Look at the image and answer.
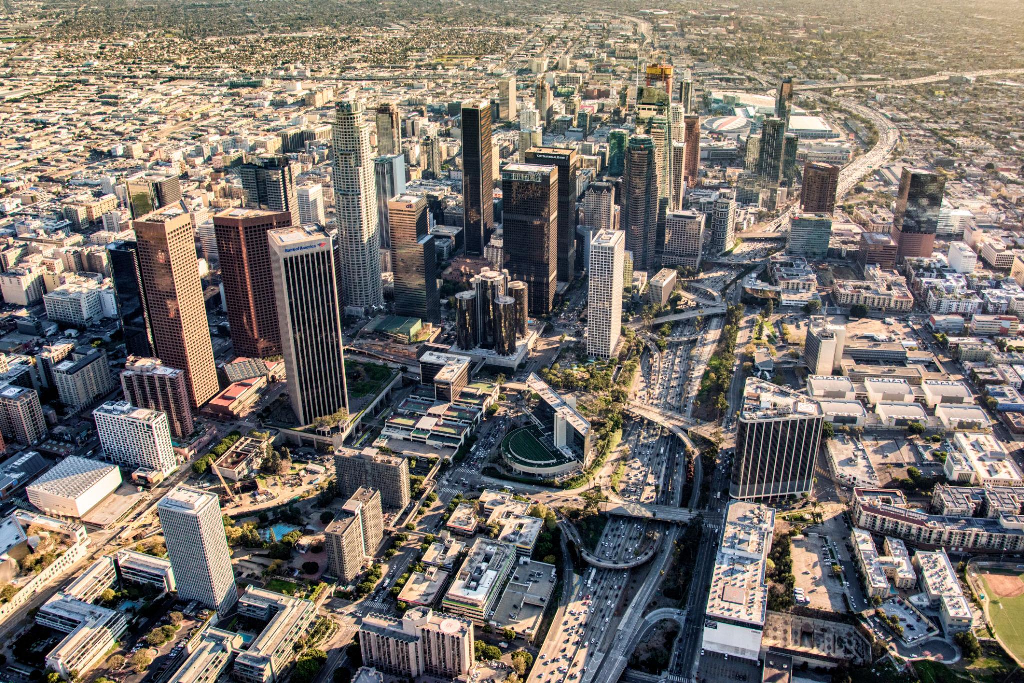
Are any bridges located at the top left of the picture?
No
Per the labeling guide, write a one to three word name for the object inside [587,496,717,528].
bridge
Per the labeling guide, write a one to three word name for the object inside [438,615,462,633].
helipad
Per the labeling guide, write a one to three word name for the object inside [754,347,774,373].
building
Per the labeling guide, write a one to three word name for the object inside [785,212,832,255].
building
